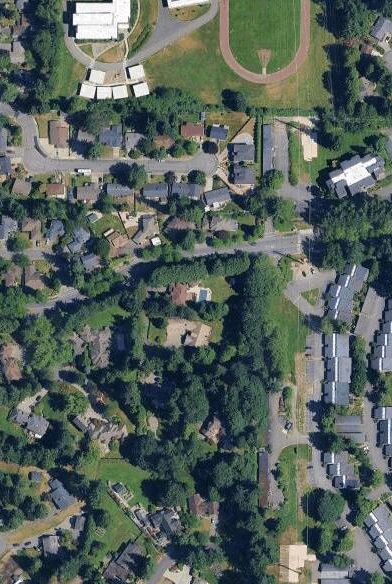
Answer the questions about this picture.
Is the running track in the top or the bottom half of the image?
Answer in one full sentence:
You can find the running track in the top half.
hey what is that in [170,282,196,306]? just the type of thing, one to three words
house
